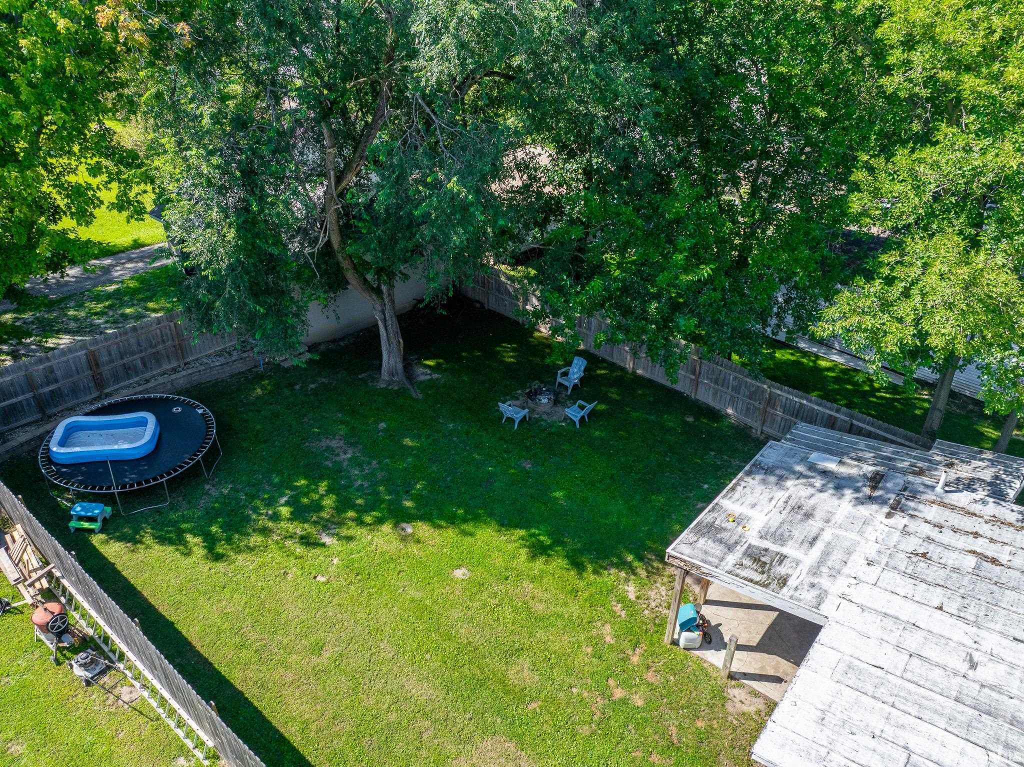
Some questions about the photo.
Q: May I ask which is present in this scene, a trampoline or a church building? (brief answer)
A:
trampoline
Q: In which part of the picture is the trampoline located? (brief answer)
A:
left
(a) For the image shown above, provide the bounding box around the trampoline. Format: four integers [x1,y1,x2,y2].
[40,394,222,518]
